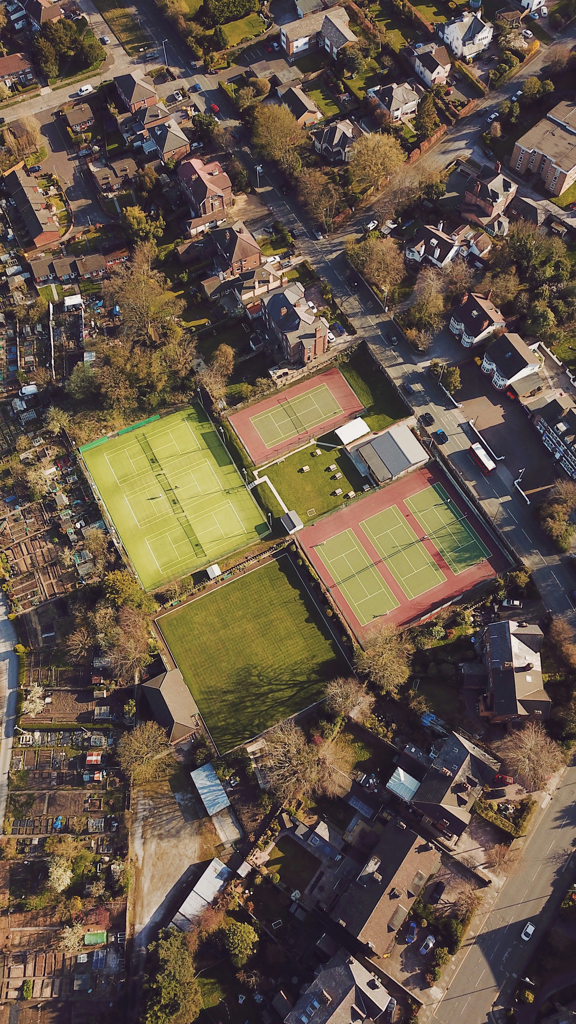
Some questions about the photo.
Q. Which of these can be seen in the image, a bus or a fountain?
bus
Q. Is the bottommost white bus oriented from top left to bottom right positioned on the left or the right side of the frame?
right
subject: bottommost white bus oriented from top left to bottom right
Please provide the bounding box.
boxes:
[468,439,501,479]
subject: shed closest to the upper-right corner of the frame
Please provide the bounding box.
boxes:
[499,7,525,27]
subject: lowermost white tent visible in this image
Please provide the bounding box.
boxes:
[334,418,370,450]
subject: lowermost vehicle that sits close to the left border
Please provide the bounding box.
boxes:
[18,381,39,396]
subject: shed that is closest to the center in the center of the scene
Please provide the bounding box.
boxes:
[281,511,304,535]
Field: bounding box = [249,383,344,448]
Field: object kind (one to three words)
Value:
tennis court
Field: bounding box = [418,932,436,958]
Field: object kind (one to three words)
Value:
car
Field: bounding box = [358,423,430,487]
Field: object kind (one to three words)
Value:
building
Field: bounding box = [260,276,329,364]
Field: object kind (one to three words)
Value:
house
